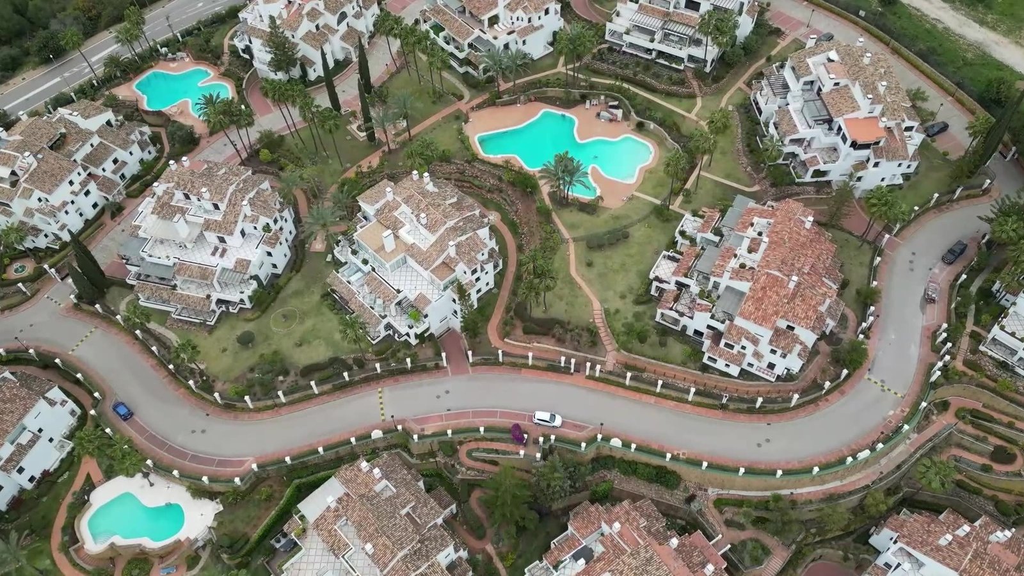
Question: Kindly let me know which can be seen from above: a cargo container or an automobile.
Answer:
automobile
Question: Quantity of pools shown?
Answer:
3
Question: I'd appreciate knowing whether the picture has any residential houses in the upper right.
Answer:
Yes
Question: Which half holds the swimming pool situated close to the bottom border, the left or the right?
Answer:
left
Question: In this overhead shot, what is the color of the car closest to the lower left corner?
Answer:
blue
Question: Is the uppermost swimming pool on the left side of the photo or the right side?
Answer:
left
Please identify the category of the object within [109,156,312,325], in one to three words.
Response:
house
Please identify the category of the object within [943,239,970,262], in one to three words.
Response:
car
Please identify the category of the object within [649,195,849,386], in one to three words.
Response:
house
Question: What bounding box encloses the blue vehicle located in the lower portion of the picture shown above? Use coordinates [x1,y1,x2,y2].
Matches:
[109,400,133,423]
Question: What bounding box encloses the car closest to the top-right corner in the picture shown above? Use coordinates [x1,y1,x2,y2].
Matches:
[926,120,951,135]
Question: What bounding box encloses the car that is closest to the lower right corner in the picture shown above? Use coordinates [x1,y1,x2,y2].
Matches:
[925,280,942,302]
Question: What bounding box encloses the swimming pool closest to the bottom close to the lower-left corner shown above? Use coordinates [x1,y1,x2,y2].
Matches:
[83,488,189,549]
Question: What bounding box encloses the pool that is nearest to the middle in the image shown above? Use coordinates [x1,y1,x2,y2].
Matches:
[472,108,656,199]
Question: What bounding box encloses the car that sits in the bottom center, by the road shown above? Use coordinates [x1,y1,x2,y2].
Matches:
[531,410,564,430]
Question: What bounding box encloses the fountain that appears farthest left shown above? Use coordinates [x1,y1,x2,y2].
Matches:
[8,260,30,277]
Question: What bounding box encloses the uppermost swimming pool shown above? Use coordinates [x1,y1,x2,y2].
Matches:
[131,66,234,121]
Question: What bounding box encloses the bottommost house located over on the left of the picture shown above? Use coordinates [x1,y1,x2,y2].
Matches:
[278,451,469,576]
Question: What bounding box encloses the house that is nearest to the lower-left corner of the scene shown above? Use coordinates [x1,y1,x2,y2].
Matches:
[0,374,86,527]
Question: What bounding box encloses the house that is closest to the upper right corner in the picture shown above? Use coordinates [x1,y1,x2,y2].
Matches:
[745,35,925,204]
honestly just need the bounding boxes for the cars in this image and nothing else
[926,120,951,135]
[109,400,133,423]
[925,280,942,302]
[531,410,564,430]
[818,29,835,40]
[943,239,970,262]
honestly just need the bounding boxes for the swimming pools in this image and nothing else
[131,66,234,121]
[83,488,189,549]
[472,108,656,199]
